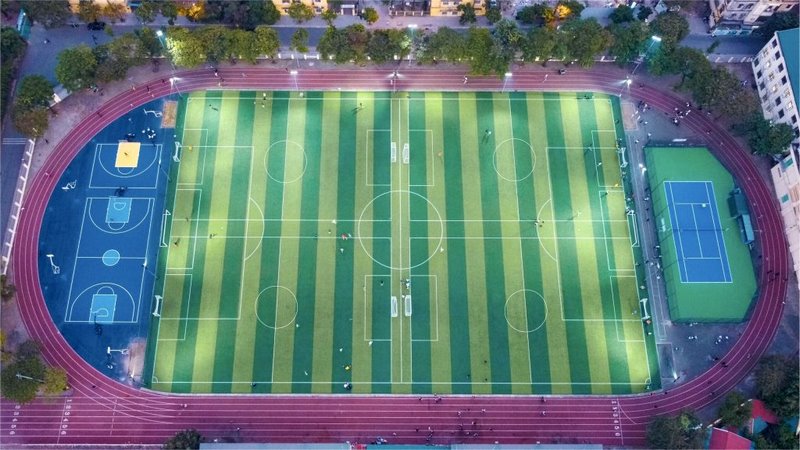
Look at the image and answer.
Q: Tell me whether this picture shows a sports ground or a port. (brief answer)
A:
sports ground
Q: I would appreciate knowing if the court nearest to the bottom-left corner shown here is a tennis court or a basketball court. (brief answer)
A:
basketball court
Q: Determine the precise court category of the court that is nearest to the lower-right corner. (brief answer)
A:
tennis court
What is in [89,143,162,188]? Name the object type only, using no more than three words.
basketball court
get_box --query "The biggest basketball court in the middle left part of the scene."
[65,198,155,322]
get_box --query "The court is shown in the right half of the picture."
[644,147,757,322]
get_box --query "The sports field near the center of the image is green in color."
[138,90,664,395]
